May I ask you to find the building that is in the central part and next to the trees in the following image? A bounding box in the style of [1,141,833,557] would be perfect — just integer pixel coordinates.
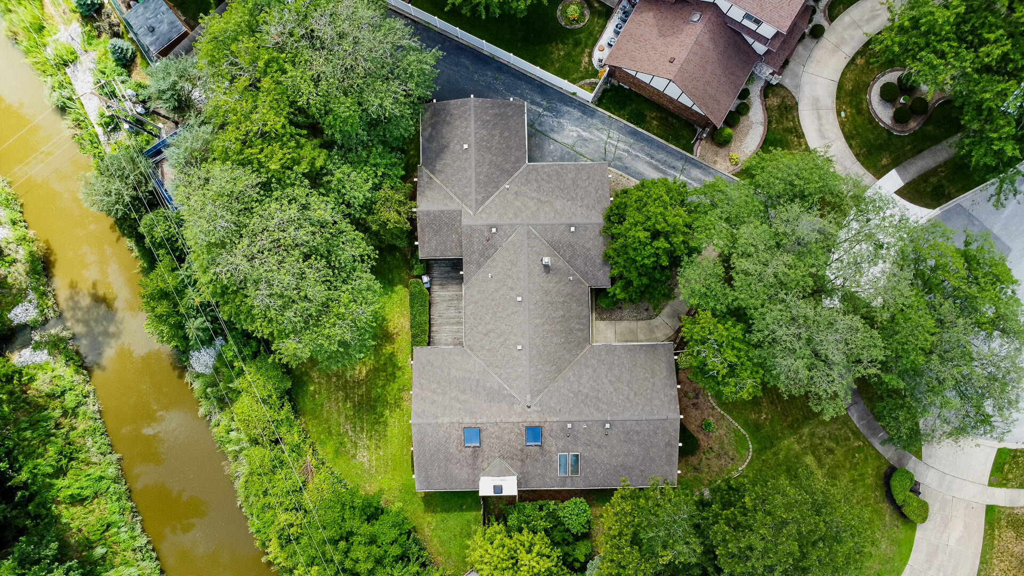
[408,94,688,497]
